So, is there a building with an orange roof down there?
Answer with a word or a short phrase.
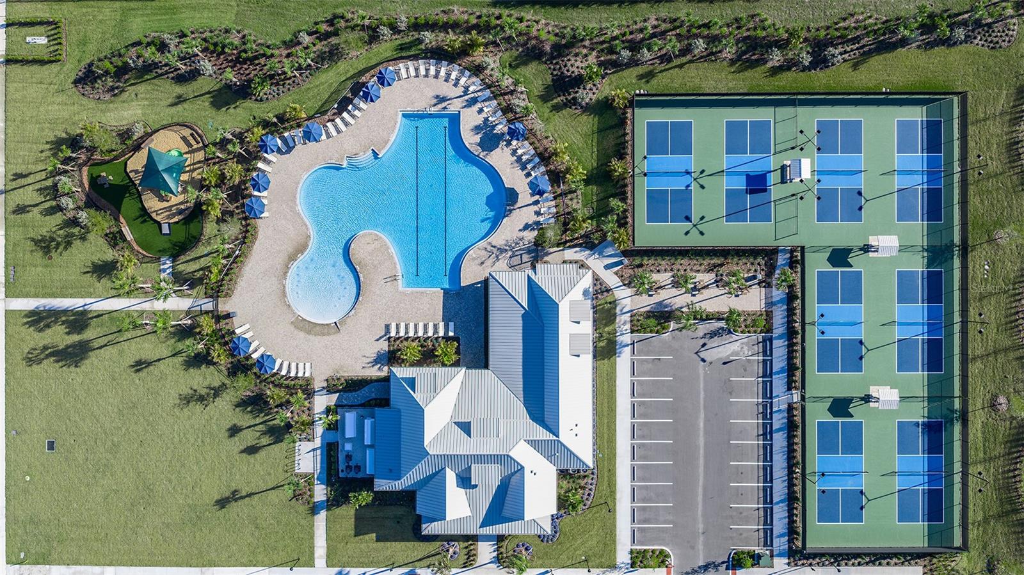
No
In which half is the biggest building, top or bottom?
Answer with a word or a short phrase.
bottom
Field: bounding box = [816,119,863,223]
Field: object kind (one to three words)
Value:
sports court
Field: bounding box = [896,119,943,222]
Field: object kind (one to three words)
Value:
sports court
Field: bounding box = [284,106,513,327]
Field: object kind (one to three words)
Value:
swimming pool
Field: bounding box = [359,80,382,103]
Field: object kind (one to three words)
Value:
umbrella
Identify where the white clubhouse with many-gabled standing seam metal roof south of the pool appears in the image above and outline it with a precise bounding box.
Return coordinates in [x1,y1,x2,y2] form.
[374,263,593,534]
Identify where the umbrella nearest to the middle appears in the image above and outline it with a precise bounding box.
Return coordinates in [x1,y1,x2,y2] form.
[527,175,551,198]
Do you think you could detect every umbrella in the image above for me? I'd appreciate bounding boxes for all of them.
[249,170,273,194]
[374,66,398,90]
[359,80,382,103]
[504,125,528,148]
[254,353,277,377]
[256,132,280,156]
[527,175,551,198]
[244,195,268,218]
[230,335,252,357]
[301,120,324,143]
